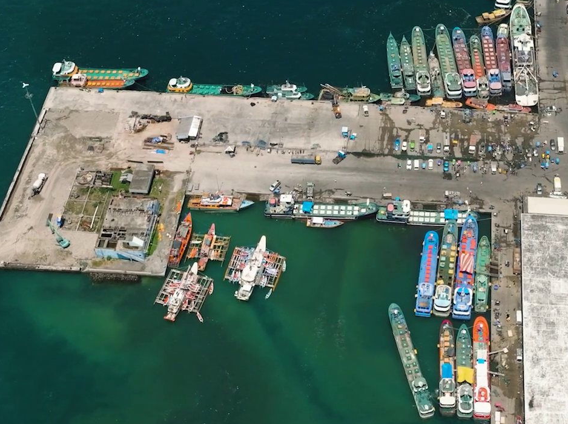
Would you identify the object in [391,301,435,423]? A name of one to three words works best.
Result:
boat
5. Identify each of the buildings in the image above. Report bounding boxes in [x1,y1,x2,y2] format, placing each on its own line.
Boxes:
[177,116,202,144]
[94,196,160,264]
[130,165,154,197]
[521,214,568,424]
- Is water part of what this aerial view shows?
Yes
